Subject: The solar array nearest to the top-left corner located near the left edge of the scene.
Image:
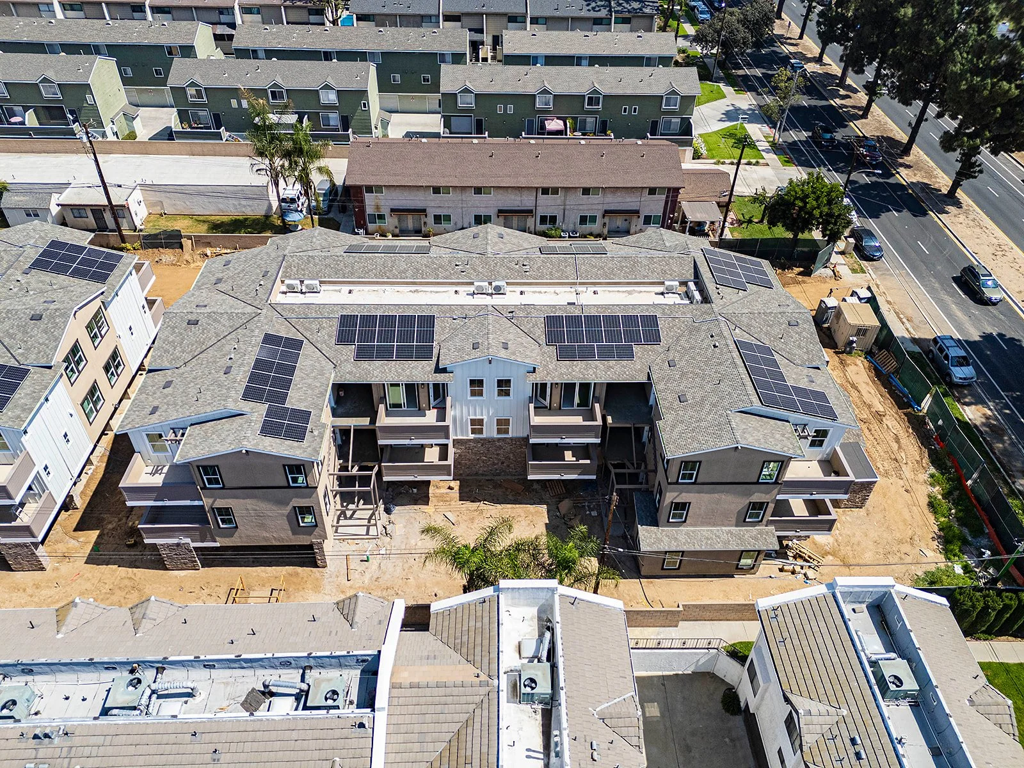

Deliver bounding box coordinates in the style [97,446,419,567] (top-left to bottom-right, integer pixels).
[21,239,124,288]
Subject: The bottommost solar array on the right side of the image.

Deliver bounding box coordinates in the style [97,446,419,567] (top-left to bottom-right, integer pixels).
[736,337,843,420]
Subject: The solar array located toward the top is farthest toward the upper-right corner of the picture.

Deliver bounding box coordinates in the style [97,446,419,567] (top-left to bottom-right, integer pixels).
[703,246,779,291]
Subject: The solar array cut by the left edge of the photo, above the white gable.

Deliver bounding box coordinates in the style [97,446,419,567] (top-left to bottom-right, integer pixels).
[0,364,29,405]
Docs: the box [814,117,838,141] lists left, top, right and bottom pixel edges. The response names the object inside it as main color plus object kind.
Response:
black car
